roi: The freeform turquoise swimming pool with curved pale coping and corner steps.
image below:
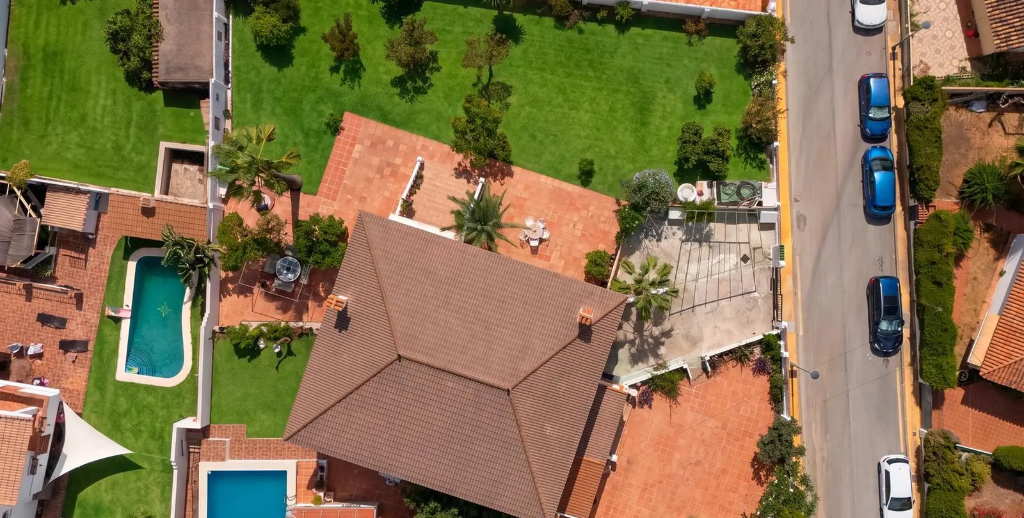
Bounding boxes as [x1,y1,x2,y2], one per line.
[115,247,199,387]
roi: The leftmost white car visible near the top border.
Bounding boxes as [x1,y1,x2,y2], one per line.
[852,0,891,30]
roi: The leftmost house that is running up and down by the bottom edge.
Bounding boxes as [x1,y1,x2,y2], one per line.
[0,378,66,518]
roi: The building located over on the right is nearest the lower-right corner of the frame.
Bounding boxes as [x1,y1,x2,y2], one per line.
[956,234,1024,395]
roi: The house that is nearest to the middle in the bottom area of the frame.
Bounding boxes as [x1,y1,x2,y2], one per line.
[282,209,631,518]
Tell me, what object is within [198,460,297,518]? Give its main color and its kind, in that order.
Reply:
blue swimming pool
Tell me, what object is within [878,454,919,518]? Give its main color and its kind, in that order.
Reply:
white car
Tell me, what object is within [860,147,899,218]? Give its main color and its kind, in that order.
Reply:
blue car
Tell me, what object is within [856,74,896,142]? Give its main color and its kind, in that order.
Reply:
blue car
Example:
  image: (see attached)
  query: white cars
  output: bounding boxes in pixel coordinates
[878,454,919,518]
[852,0,891,30]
